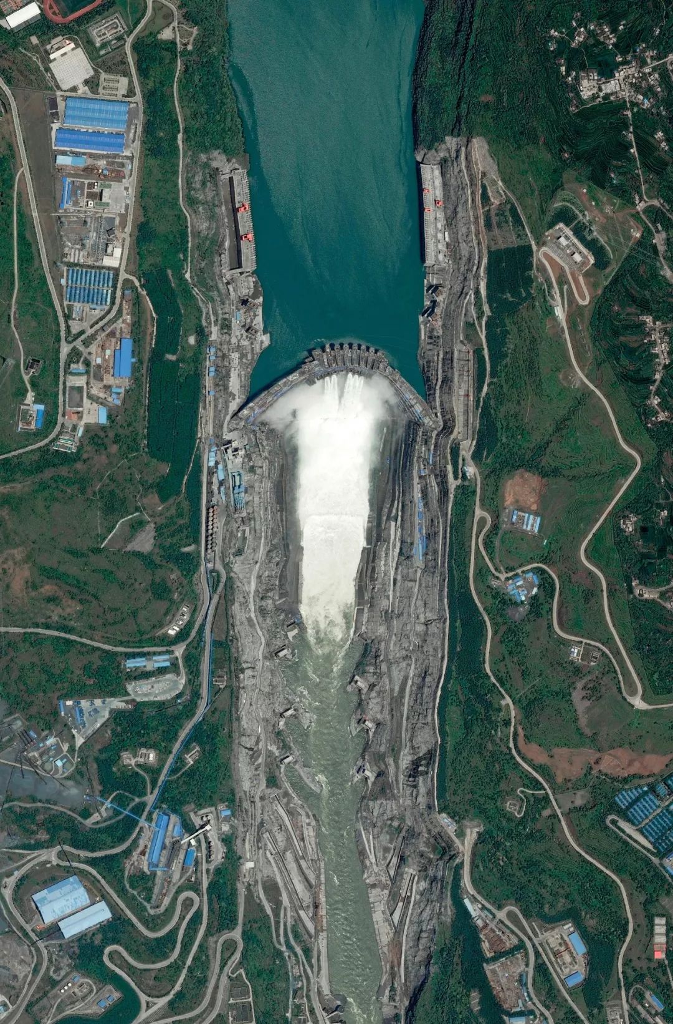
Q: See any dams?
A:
Yes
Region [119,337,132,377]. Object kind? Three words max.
building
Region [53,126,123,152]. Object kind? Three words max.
building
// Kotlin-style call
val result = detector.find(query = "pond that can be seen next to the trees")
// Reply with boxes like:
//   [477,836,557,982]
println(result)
[227,0,429,407]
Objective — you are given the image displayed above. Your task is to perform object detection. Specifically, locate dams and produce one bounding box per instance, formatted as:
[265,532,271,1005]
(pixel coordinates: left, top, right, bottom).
[229,344,442,432]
